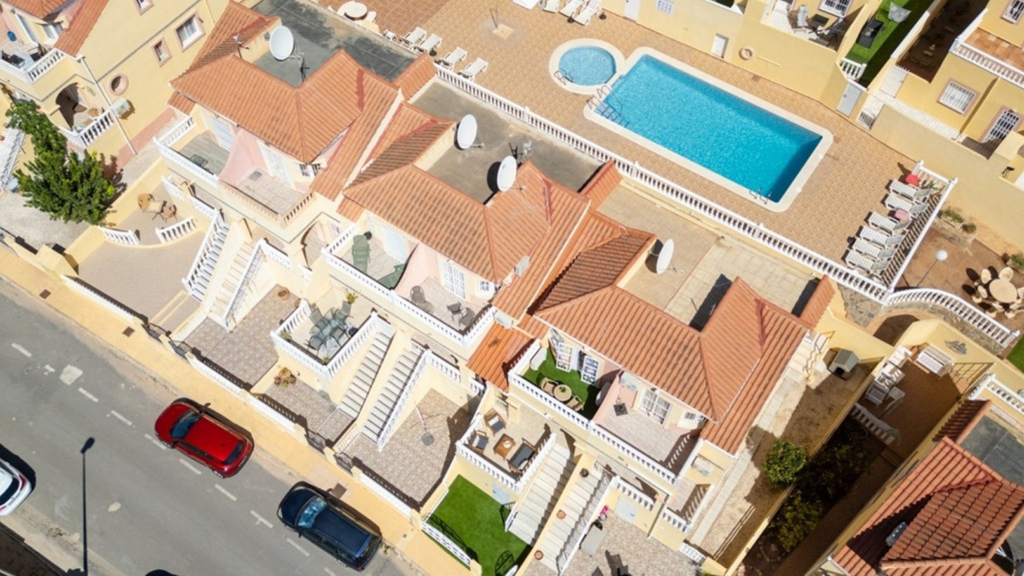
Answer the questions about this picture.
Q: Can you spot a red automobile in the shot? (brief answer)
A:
Yes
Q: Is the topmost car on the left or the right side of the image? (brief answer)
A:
left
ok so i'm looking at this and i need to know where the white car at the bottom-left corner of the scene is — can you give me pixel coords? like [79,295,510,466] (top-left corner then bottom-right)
[0,462,31,518]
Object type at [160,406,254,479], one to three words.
car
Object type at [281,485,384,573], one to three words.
car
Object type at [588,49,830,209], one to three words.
swimming pool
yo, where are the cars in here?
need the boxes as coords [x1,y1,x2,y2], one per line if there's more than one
[0,462,31,518]
[160,406,254,479]
[281,485,384,573]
